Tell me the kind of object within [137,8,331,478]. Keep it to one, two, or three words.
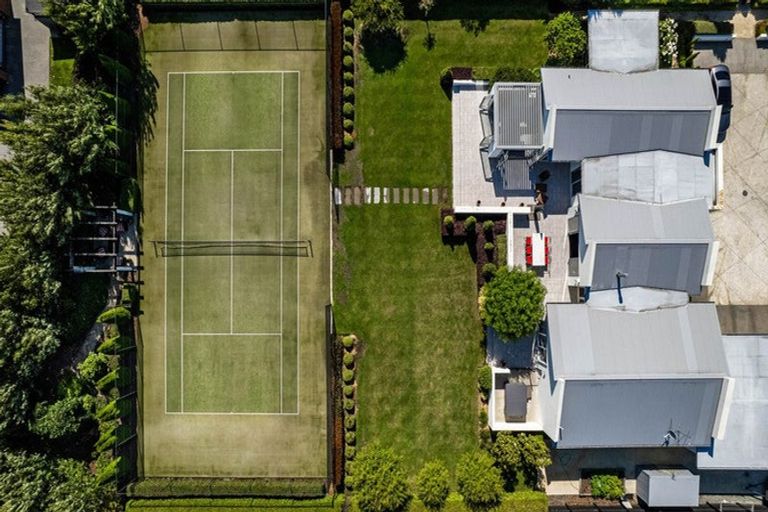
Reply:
tennis court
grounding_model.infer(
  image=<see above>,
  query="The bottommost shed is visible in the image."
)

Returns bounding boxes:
[635,464,700,506]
